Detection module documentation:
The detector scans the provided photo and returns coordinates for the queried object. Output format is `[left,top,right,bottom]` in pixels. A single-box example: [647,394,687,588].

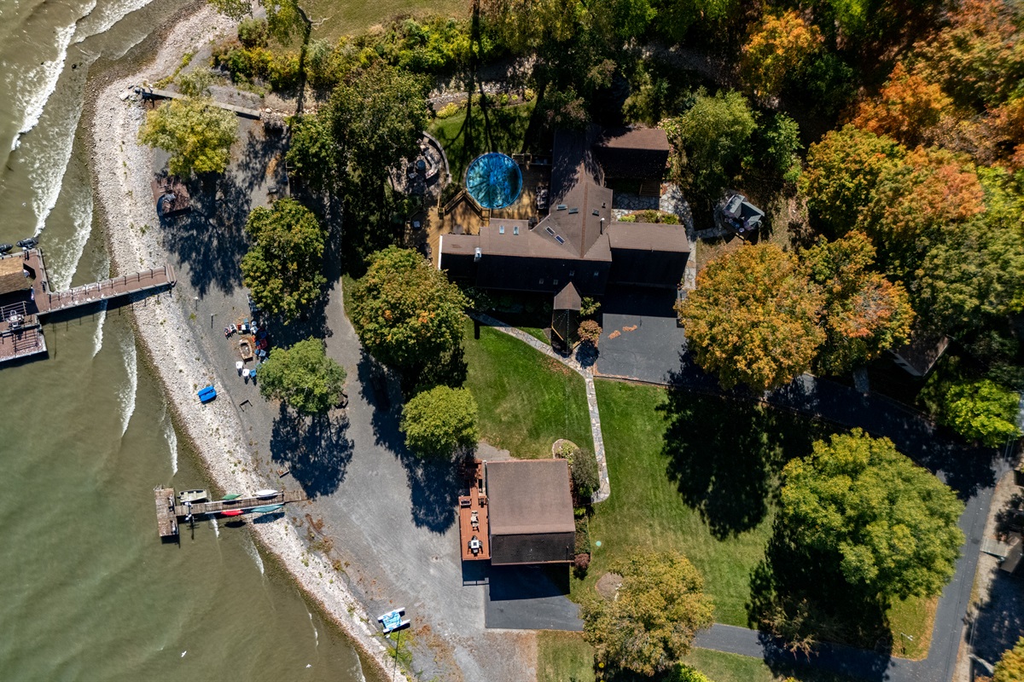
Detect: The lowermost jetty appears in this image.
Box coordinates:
[154,484,306,536]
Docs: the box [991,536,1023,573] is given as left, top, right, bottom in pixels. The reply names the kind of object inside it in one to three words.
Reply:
shed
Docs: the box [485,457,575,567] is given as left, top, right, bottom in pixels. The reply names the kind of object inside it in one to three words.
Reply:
building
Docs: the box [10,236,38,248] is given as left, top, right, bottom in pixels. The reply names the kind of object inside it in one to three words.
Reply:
boat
